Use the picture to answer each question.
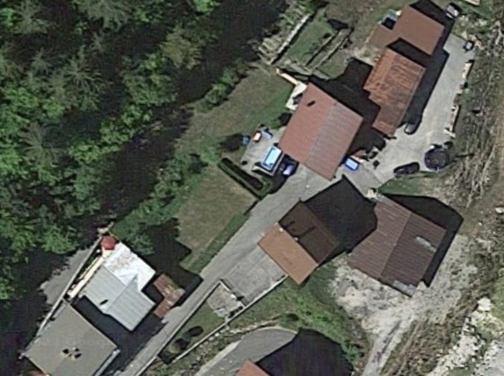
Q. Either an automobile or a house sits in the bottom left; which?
house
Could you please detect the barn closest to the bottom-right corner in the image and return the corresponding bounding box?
[348,194,447,297]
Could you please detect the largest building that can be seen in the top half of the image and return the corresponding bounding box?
[277,70,363,181]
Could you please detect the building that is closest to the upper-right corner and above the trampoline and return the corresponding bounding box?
[368,5,445,57]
